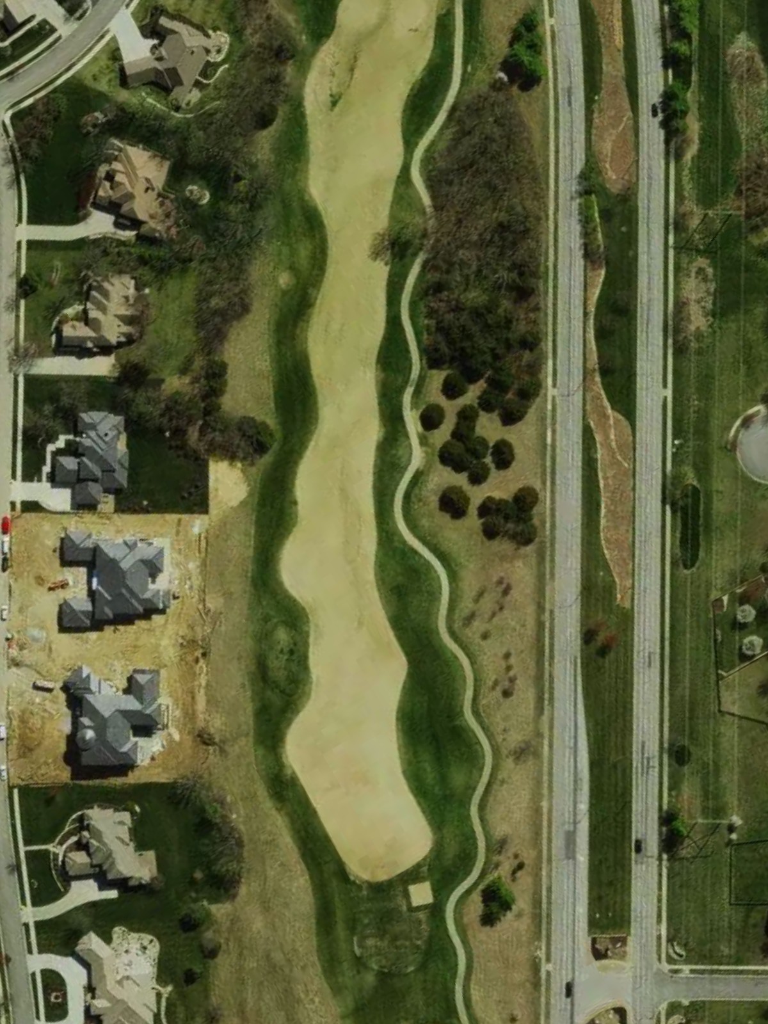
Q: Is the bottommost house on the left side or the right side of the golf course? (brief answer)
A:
to the left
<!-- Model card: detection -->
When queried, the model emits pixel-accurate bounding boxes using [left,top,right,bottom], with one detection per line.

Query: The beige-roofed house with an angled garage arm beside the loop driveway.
[74,929,159,1024]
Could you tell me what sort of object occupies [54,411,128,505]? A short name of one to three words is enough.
house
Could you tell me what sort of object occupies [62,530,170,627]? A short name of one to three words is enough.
house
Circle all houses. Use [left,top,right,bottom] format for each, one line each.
[59,274,140,346]
[123,12,216,108]
[54,411,128,505]
[95,142,172,236]
[0,0,17,34]
[62,530,170,627]
[63,809,158,886]
[74,929,159,1024]
[62,664,161,767]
